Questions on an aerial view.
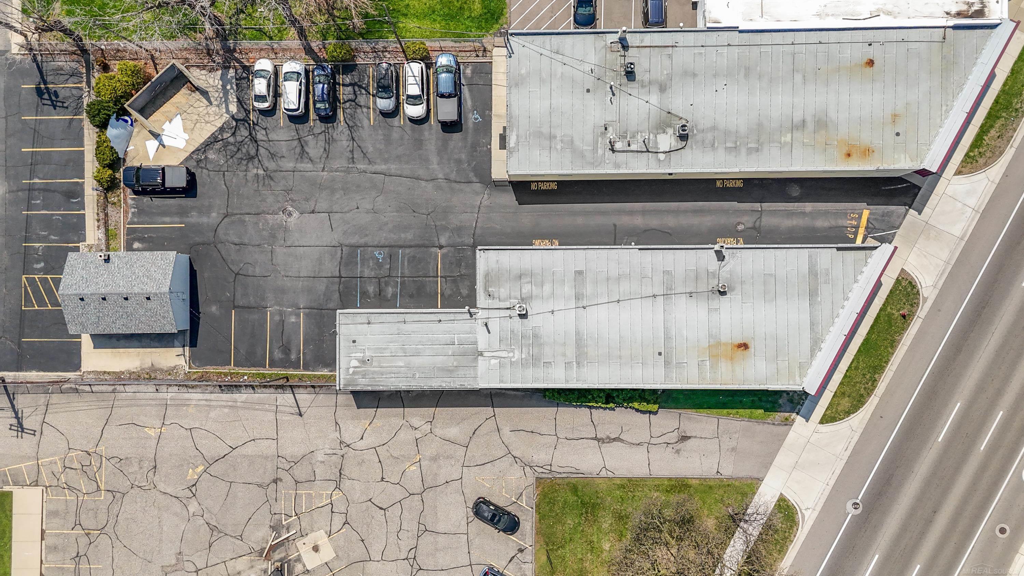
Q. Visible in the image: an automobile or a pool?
automobile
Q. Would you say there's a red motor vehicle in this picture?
No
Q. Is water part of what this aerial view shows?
No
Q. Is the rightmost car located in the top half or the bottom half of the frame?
top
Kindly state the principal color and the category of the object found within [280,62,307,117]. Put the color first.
white car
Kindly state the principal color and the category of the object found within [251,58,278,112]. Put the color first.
white car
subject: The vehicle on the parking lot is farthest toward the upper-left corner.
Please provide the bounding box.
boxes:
[124,165,193,192]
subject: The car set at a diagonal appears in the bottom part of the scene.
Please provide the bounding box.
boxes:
[469,494,521,535]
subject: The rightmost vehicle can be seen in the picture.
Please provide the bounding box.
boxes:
[641,0,666,28]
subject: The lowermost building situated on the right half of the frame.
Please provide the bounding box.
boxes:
[337,242,897,396]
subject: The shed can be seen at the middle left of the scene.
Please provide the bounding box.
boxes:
[58,251,189,335]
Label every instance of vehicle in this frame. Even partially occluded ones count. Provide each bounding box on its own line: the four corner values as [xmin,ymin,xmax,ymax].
[124,165,193,192]
[477,564,508,576]
[573,0,597,28]
[311,64,336,119]
[401,61,428,119]
[251,58,278,112]
[280,62,307,117]
[434,57,460,125]
[373,60,398,114]
[641,0,666,28]
[469,494,521,535]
